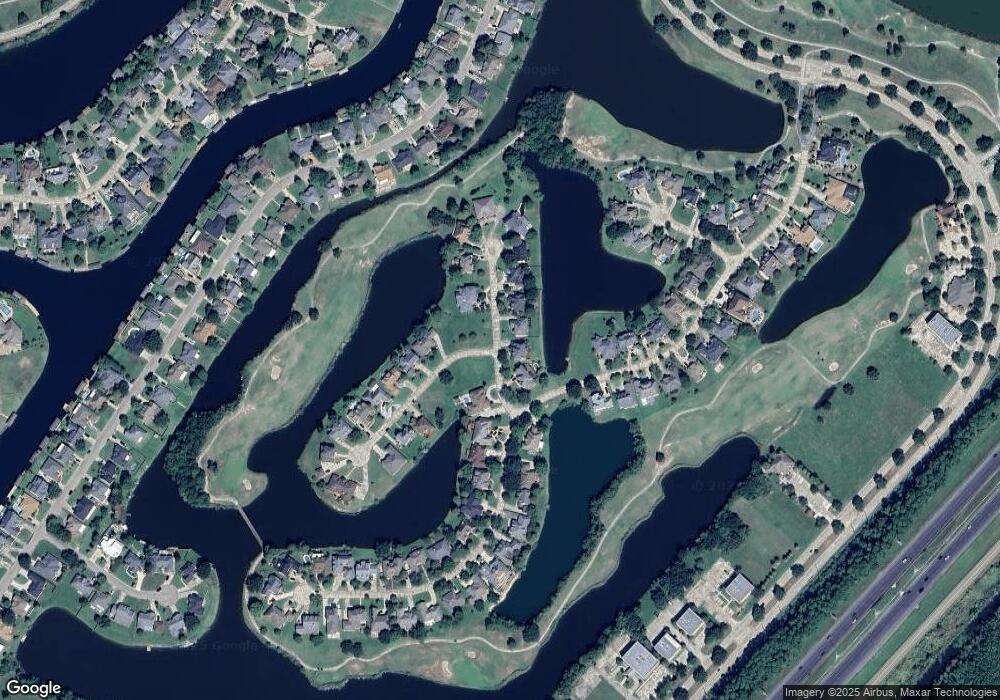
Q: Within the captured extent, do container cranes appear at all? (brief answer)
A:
No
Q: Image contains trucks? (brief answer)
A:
No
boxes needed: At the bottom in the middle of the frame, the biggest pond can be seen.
[497,404,635,623]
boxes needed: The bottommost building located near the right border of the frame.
[924,312,964,347]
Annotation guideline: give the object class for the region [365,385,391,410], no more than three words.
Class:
house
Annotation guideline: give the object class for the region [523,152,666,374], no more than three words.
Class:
pond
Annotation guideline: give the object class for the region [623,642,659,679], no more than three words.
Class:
building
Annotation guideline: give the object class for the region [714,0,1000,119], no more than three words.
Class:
golf course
